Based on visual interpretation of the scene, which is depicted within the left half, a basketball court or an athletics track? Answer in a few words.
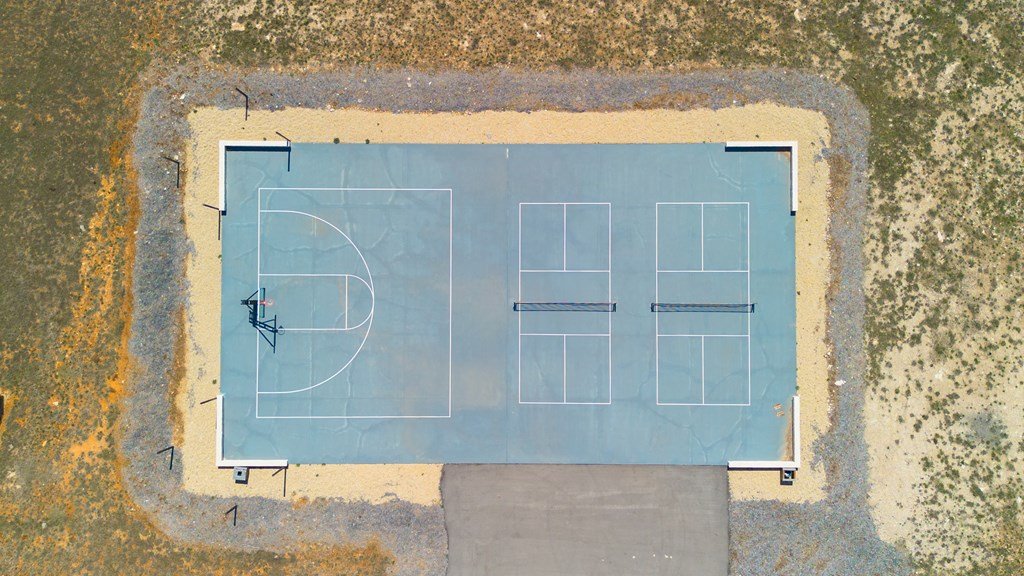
basketball court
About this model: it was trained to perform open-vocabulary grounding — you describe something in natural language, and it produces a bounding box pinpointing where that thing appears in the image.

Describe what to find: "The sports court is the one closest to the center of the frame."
[519,203,610,404]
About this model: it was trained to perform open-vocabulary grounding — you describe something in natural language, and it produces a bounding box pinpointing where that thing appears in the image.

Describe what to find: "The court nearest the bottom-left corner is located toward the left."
[257,188,452,418]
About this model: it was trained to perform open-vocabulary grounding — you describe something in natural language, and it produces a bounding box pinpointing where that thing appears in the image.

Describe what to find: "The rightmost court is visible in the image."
[656,203,750,405]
